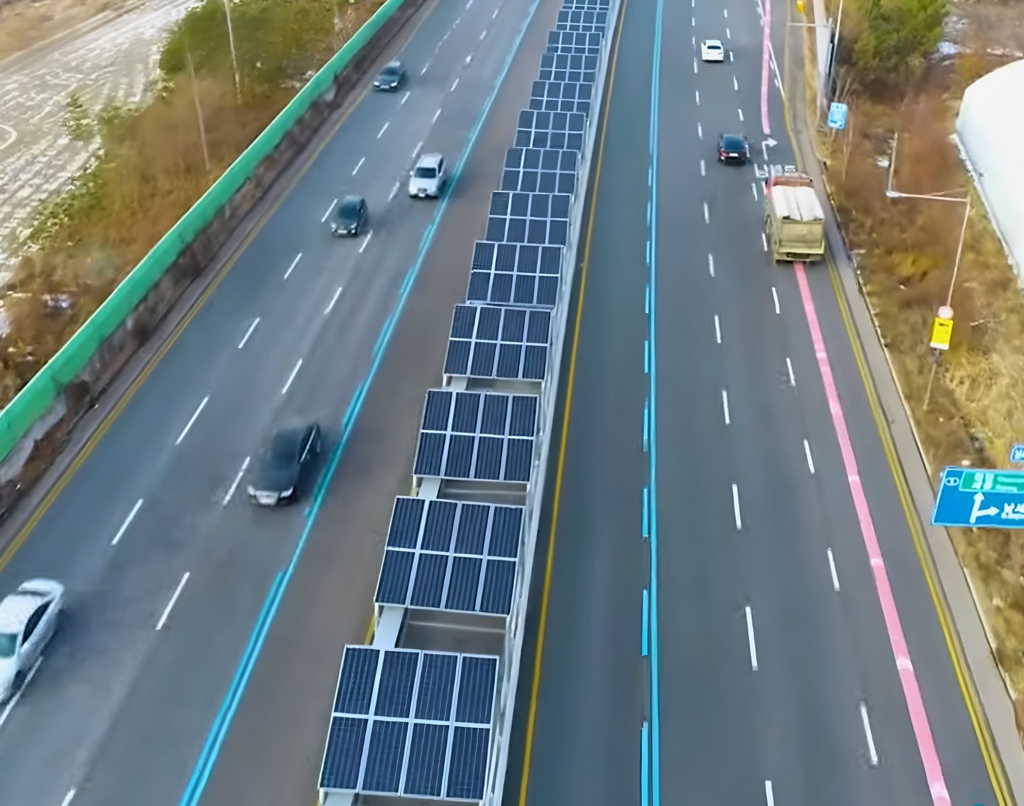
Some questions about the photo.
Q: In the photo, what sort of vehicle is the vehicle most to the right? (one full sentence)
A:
I'd identify the vehicle most to the right as a truck.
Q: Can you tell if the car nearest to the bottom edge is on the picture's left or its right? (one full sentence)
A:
The car nearest to the bottom edge sits on the left side.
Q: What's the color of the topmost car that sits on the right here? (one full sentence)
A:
In this view, the topmost car that sits on the right is white.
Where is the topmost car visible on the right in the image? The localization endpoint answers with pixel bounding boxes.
[699,39,724,60]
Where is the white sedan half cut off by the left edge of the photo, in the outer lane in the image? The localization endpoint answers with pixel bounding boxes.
[0,578,66,688]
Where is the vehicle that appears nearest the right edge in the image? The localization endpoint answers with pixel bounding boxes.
[767,172,831,264]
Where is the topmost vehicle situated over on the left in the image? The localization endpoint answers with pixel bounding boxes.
[376,63,406,88]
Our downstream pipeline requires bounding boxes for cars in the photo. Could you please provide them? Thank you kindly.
[715,135,747,164]
[699,39,724,60]
[0,578,66,688]
[410,153,447,195]
[329,197,371,237]
[250,424,319,506]
[376,63,406,88]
